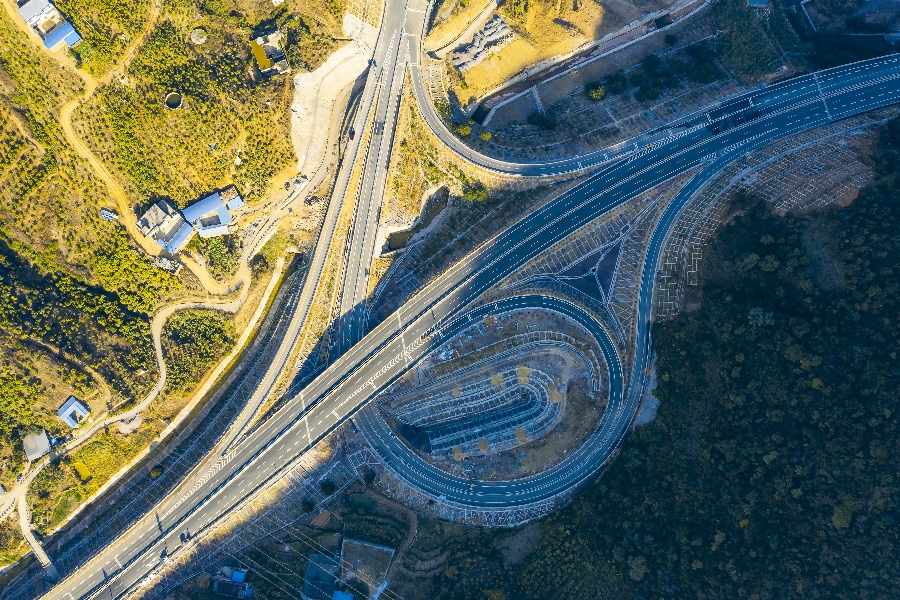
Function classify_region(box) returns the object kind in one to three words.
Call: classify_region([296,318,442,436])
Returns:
overpass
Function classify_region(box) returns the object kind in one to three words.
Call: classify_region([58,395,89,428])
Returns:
house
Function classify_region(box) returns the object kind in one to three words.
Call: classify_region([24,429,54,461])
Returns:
house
